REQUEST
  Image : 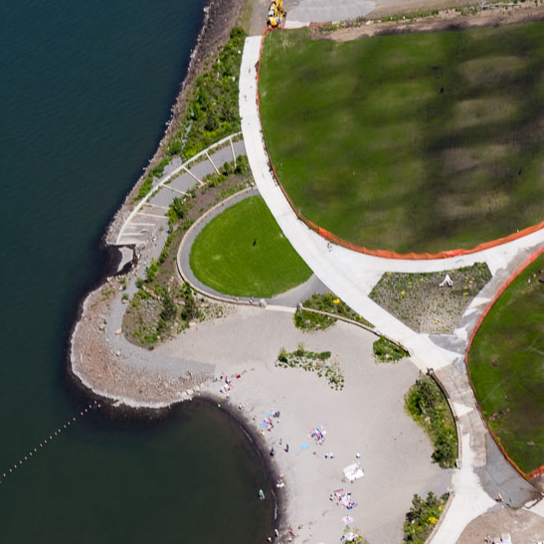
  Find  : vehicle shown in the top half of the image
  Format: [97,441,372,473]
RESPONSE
[267,0,289,26]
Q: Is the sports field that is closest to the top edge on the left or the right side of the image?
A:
right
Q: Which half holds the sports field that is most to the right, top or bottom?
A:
bottom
